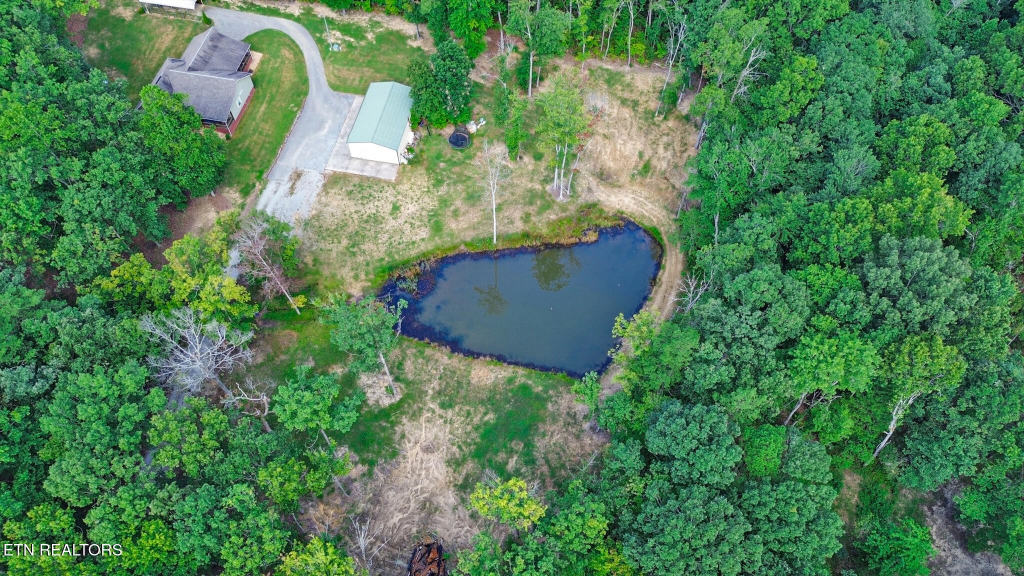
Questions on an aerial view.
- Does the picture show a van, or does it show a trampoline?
trampoline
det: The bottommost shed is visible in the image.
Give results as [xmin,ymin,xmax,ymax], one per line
[346,80,421,163]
